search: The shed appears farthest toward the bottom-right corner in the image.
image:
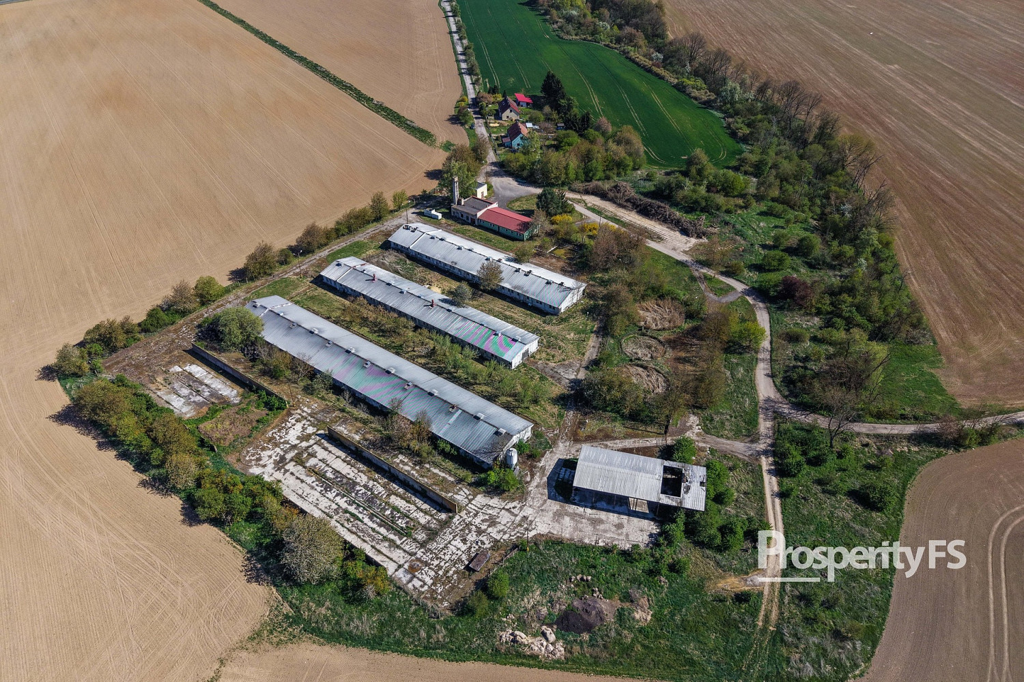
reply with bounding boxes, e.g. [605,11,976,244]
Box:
[573,445,712,519]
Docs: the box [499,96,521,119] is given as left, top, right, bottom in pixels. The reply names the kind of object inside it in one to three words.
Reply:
house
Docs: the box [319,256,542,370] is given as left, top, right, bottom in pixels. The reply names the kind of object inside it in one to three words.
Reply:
barn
